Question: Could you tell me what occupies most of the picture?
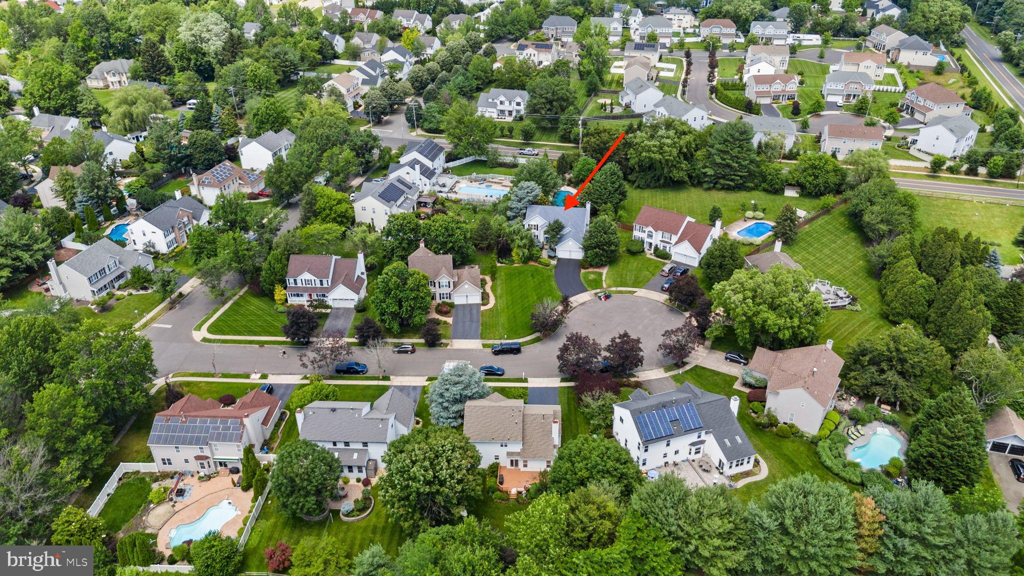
trees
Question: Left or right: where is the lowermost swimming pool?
left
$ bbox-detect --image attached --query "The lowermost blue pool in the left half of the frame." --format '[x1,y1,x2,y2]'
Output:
[108,223,130,240]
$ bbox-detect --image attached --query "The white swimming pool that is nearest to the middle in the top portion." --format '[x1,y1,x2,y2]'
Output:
[455,183,510,198]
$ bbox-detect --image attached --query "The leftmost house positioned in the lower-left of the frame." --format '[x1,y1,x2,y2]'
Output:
[146,390,288,476]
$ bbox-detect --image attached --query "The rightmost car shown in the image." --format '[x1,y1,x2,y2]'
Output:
[1002,459,1024,482]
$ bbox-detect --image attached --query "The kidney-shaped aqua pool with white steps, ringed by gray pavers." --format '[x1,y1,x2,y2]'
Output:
[850,429,902,469]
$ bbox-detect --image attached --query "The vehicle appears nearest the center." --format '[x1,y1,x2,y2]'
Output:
[492,340,521,354]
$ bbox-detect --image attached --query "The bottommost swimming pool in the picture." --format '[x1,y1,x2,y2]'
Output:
[168,498,240,551]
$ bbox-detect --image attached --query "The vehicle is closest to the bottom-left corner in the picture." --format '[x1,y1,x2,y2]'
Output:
[258,380,273,396]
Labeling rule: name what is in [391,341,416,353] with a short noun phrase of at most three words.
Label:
vehicle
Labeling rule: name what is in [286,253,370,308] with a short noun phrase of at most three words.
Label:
house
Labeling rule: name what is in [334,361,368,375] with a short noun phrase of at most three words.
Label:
vehicle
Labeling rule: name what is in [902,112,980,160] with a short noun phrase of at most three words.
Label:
house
